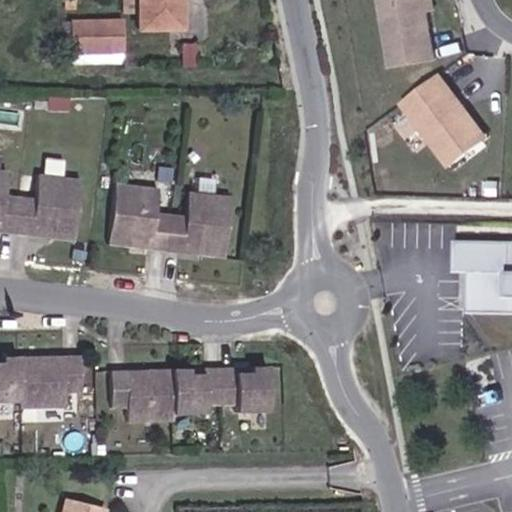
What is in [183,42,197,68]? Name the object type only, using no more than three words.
shed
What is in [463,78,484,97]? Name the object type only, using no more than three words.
car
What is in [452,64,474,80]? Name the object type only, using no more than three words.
car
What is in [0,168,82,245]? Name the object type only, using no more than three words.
house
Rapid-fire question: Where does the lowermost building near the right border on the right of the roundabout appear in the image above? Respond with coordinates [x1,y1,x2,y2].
[451,240,512,314]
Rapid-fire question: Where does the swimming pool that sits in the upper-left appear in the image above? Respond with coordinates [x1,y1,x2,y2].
[0,106,24,128]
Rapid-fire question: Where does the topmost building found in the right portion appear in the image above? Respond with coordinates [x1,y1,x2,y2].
[373,0,436,68]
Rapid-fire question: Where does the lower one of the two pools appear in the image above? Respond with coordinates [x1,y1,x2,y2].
[62,430,86,454]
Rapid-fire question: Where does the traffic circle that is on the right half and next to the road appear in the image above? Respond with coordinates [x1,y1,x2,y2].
[278,252,372,350]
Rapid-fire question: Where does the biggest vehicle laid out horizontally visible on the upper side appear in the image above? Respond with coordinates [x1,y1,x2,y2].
[434,41,462,56]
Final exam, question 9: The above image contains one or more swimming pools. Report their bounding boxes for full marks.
[0,106,24,128]
[62,430,86,454]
